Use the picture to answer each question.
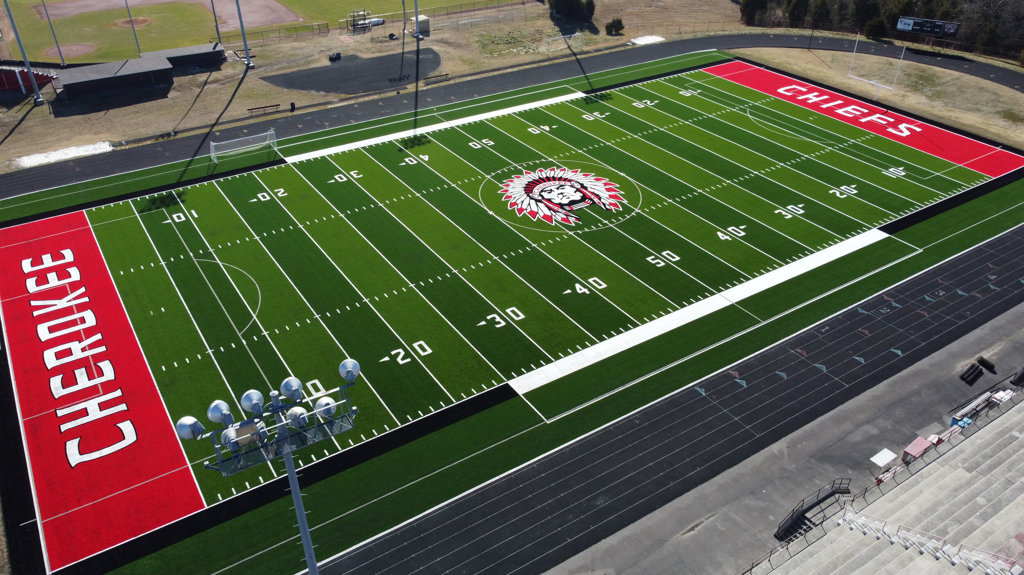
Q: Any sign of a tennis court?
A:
No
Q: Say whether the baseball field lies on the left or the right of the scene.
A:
left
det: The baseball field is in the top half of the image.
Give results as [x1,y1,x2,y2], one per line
[0,0,543,62]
